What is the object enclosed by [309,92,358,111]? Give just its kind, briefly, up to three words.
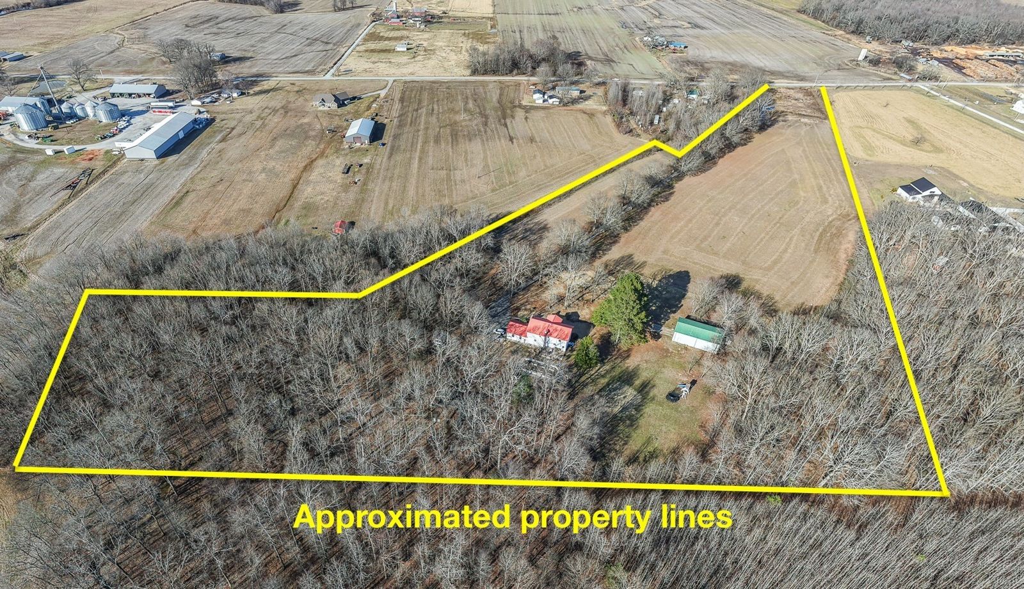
house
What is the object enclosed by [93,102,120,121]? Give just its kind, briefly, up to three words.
silo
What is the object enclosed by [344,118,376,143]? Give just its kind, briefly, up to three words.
building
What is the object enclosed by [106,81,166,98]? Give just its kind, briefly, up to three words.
shed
